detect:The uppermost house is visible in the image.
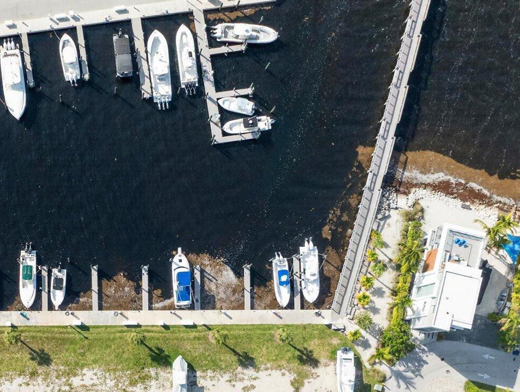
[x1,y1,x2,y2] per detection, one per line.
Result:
[405,223,486,335]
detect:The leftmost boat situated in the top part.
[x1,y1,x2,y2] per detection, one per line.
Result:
[0,43,28,119]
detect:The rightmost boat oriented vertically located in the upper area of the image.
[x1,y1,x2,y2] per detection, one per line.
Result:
[175,22,199,98]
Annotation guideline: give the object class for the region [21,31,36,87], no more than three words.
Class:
pier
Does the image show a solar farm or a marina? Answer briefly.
marina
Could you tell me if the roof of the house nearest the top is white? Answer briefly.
Yes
